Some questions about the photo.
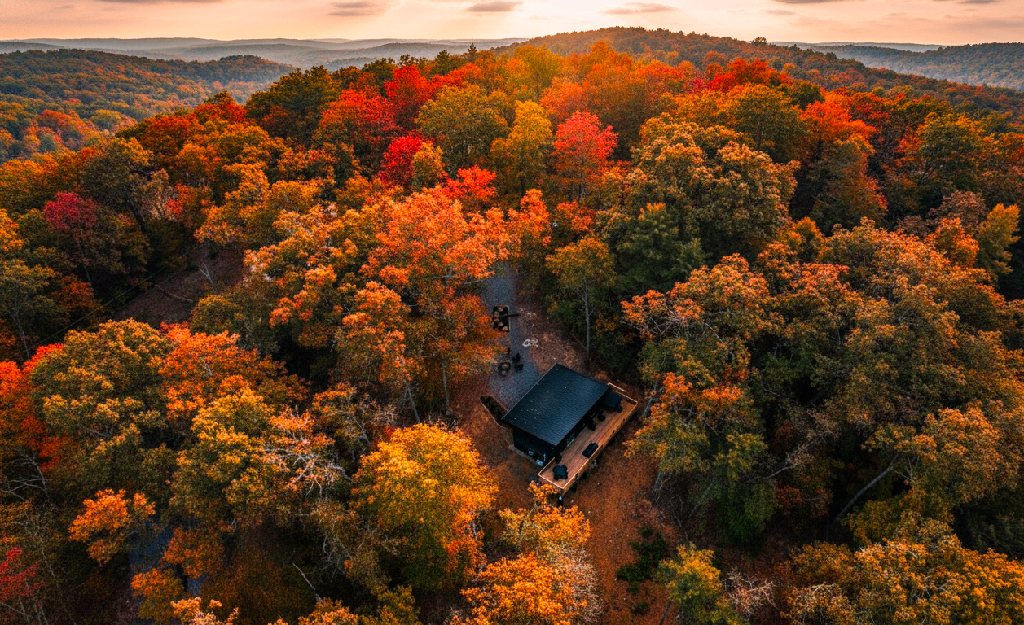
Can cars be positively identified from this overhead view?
No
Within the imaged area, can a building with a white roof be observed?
No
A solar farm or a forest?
forest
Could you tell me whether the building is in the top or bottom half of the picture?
bottom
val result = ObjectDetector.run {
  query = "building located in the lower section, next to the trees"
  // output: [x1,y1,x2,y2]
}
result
[503,368,622,476]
